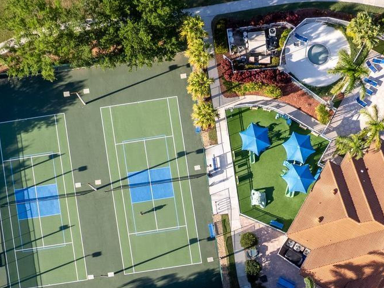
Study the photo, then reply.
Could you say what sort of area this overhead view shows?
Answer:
sports ground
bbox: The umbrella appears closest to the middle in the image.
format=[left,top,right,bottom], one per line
[239,123,271,156]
